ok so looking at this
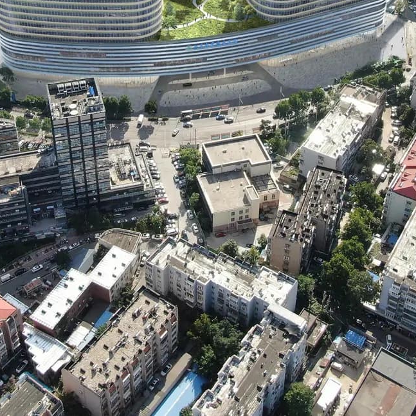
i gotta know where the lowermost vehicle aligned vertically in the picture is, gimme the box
[325,373,340,408]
